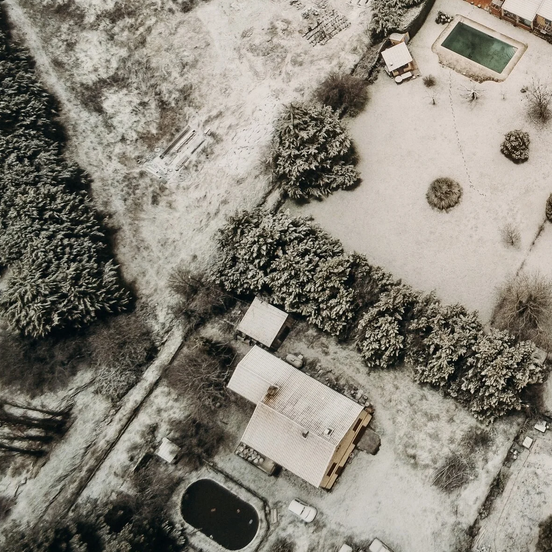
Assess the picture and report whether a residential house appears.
Yes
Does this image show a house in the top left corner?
No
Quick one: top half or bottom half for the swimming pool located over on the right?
top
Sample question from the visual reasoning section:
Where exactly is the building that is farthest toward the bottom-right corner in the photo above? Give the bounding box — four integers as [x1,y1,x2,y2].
[232,346,371,490]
